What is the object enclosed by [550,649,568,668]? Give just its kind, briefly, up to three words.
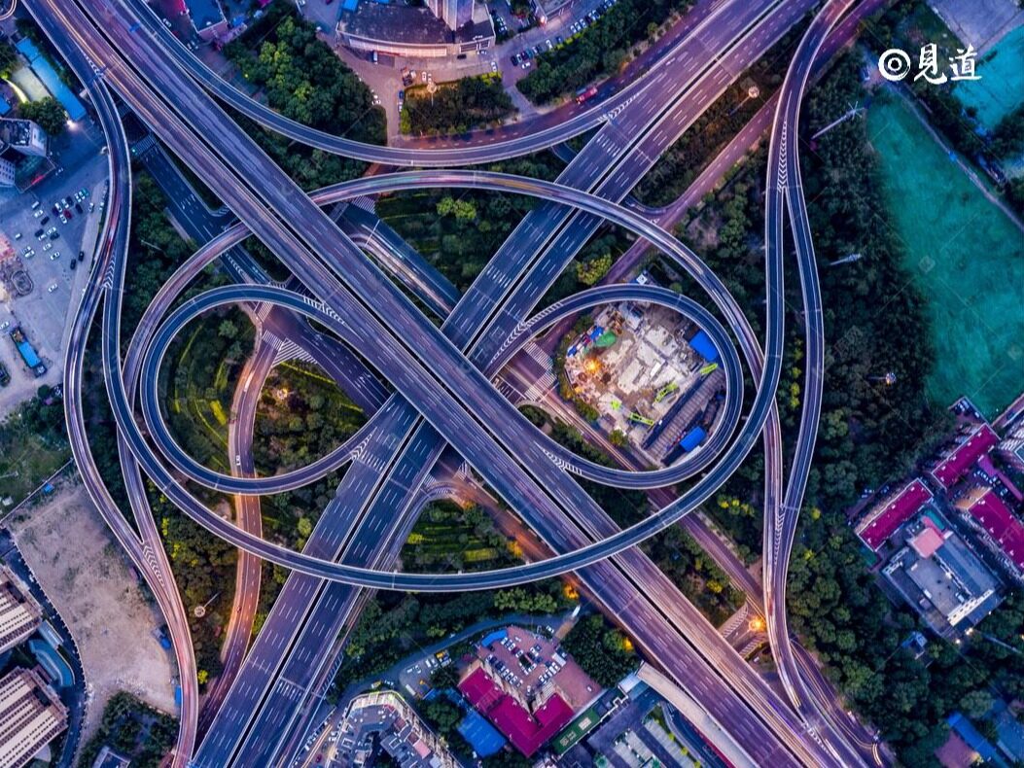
vehicle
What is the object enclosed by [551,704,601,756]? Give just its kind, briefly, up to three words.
building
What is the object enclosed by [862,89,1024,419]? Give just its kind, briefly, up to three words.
sports field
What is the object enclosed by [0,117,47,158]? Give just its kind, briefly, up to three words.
building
